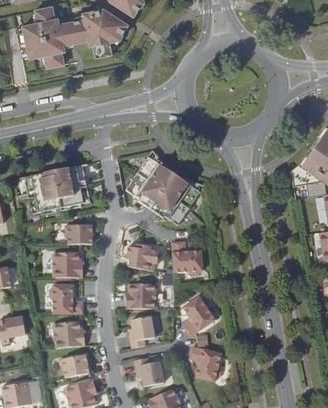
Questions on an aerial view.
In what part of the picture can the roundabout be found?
top right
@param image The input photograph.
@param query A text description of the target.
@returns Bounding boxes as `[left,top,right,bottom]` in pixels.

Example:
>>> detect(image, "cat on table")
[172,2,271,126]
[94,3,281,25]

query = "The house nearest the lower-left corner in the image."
[4,380,43,408]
